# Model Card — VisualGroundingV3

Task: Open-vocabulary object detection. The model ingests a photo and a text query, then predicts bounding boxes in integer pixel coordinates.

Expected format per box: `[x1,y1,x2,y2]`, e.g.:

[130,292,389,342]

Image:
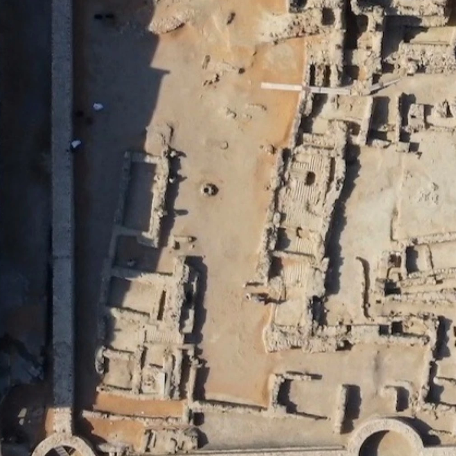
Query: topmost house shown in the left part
[97,131,201,345]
